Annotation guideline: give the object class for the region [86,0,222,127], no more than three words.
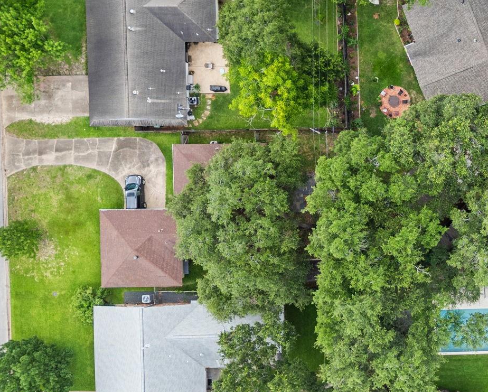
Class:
house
